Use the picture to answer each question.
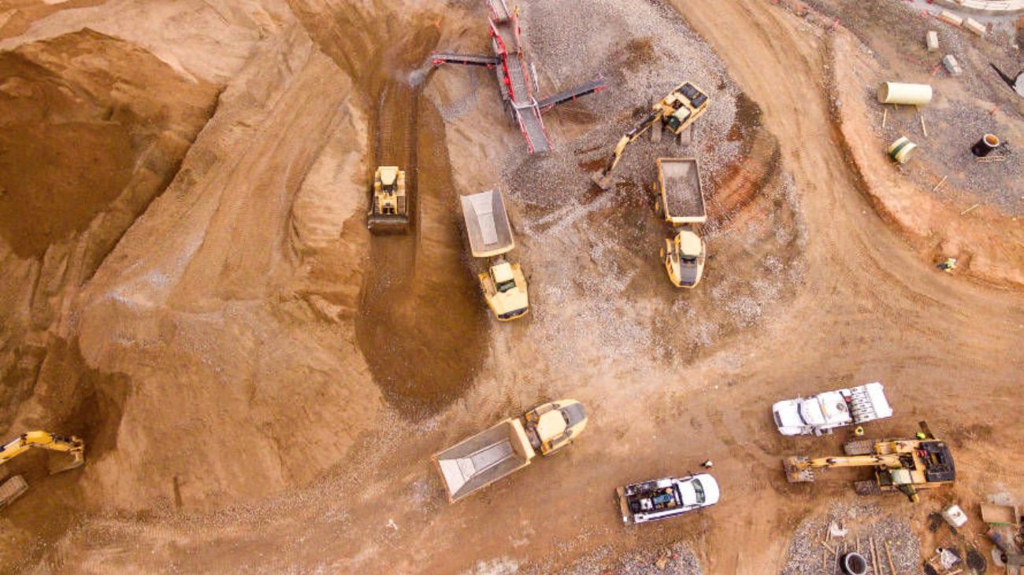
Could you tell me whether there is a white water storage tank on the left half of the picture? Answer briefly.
No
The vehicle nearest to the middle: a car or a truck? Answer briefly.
truck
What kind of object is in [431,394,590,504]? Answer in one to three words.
truck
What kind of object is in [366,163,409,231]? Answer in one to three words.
work vehicle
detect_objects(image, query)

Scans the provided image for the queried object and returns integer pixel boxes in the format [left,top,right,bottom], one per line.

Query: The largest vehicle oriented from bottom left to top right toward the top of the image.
[592,80,717,192]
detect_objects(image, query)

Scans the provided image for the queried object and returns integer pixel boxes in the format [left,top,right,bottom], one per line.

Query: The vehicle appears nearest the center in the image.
[459,188,534,327]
